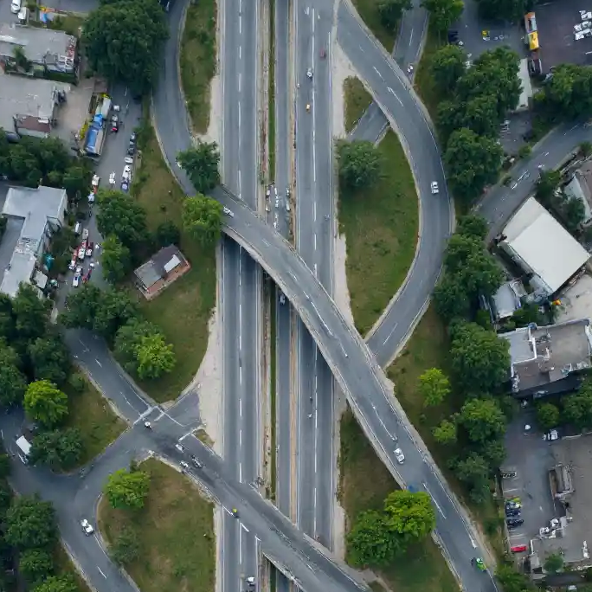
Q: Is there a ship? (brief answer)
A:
No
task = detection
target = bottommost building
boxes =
[528,434,592,569]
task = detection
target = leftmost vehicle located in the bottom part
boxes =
[12,434,36,458]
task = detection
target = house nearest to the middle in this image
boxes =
[135,245,192,298]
